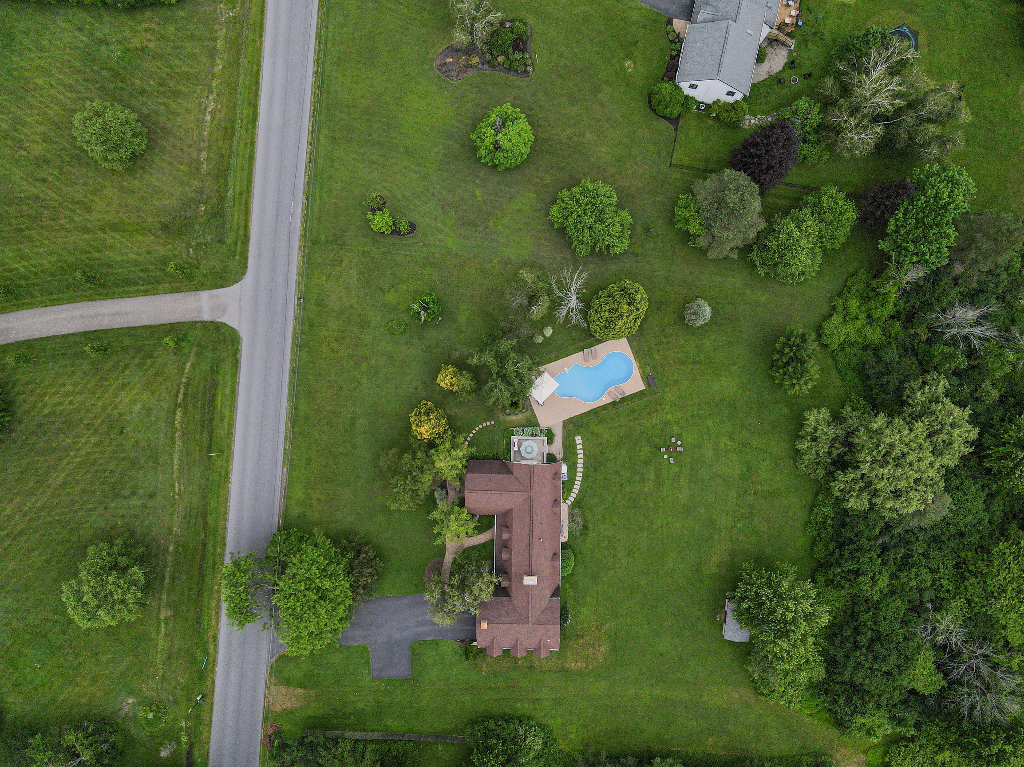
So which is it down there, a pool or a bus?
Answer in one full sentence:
Visible in the photo is a pool.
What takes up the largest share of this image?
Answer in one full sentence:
The bulk of the photo consists of grass.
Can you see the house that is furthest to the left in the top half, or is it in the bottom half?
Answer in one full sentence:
The bottom half of the photo is where the house that is furthest to the left is.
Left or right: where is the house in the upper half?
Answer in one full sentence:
The house in the upper half appears in the right half of the scene.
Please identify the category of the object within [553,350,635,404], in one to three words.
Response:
swimming pool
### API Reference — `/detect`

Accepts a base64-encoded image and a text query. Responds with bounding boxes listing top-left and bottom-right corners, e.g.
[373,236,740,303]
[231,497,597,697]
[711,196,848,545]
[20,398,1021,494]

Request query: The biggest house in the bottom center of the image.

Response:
[465,460,563,658]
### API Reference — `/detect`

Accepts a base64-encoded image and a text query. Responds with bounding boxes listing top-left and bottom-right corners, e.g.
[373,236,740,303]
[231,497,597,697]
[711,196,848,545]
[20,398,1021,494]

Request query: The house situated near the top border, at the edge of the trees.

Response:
[675,0,780,104]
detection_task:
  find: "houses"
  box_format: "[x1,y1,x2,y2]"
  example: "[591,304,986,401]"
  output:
[675,0,780,104]
[465,460,563,658]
